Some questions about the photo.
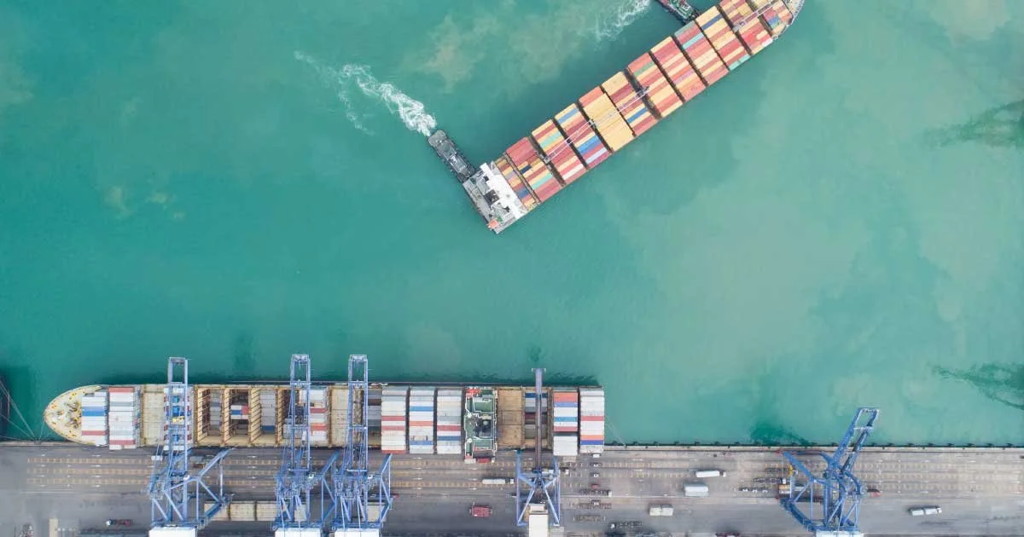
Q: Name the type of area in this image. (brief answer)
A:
port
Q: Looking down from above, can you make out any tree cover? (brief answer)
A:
No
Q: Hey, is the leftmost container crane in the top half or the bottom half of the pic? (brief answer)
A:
bottom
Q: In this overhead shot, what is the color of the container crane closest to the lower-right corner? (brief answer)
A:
blue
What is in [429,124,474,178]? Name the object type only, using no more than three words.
boat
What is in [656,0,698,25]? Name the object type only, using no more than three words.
boat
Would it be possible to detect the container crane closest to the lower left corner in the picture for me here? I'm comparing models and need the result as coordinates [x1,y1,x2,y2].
[139,355,239,537]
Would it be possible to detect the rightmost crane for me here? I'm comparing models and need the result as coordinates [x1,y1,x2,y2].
[777,409,882,537]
